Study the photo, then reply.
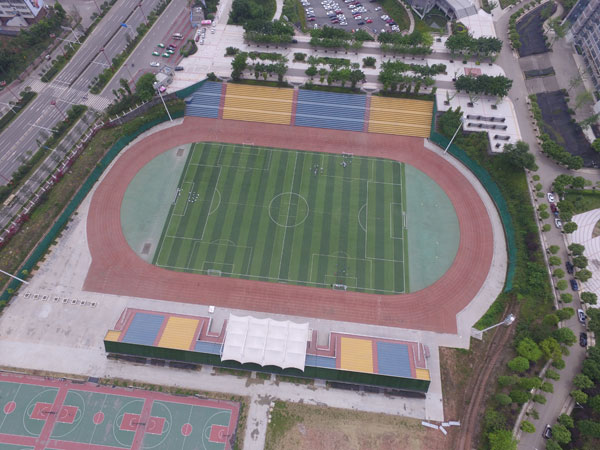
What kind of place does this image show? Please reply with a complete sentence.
The picture captures a sports ground.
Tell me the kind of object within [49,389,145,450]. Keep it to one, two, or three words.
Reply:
basketball court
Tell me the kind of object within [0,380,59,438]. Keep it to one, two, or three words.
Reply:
basketball court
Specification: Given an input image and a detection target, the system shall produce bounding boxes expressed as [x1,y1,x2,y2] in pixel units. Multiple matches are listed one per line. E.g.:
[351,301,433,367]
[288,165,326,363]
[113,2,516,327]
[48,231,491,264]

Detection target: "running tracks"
[81,117,493,334]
